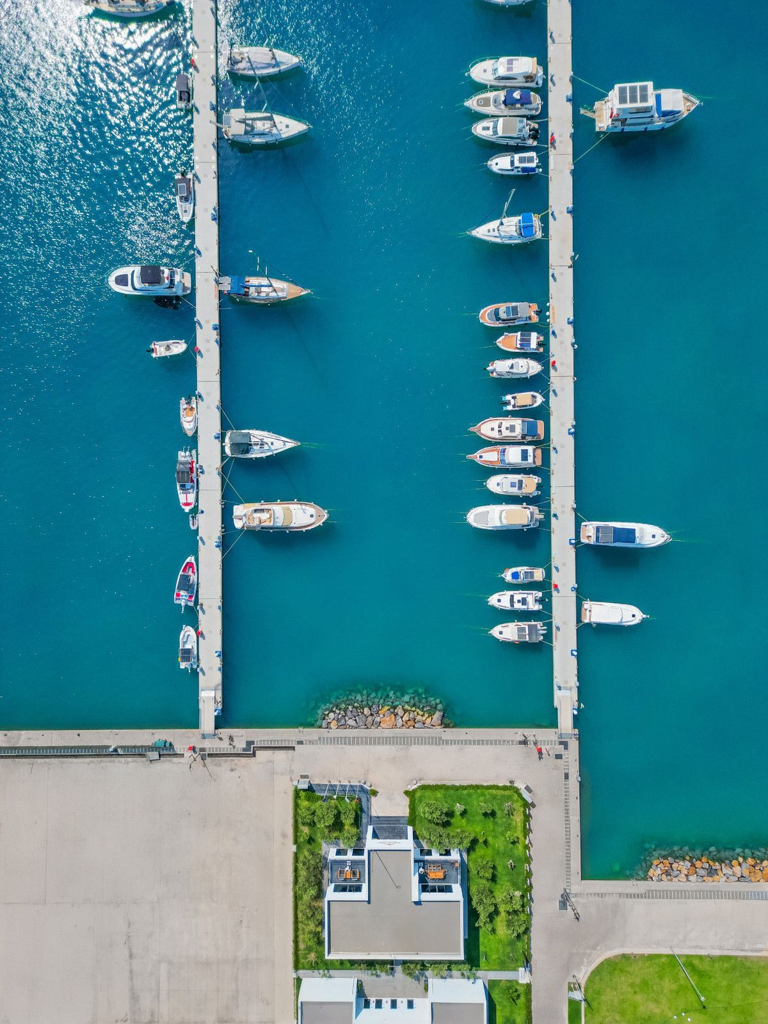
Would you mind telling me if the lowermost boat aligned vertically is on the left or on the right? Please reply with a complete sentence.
You can find the lowermost boat aligned vertically on the left side of the picture.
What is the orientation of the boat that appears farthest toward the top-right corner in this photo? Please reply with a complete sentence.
I'd say the boat that appears farthest toward the top-right corner is aligned horizontally in the picture.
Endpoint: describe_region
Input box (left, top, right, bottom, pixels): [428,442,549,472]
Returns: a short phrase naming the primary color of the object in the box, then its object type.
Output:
white boat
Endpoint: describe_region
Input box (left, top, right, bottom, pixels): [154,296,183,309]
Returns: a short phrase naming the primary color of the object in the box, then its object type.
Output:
black boat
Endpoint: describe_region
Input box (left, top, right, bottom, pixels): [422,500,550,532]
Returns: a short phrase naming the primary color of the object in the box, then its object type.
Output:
white boat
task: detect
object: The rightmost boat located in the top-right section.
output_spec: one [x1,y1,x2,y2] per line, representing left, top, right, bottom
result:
[571,79,724,157]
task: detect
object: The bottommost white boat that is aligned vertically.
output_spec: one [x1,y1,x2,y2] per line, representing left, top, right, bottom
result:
[178,625,198,675]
